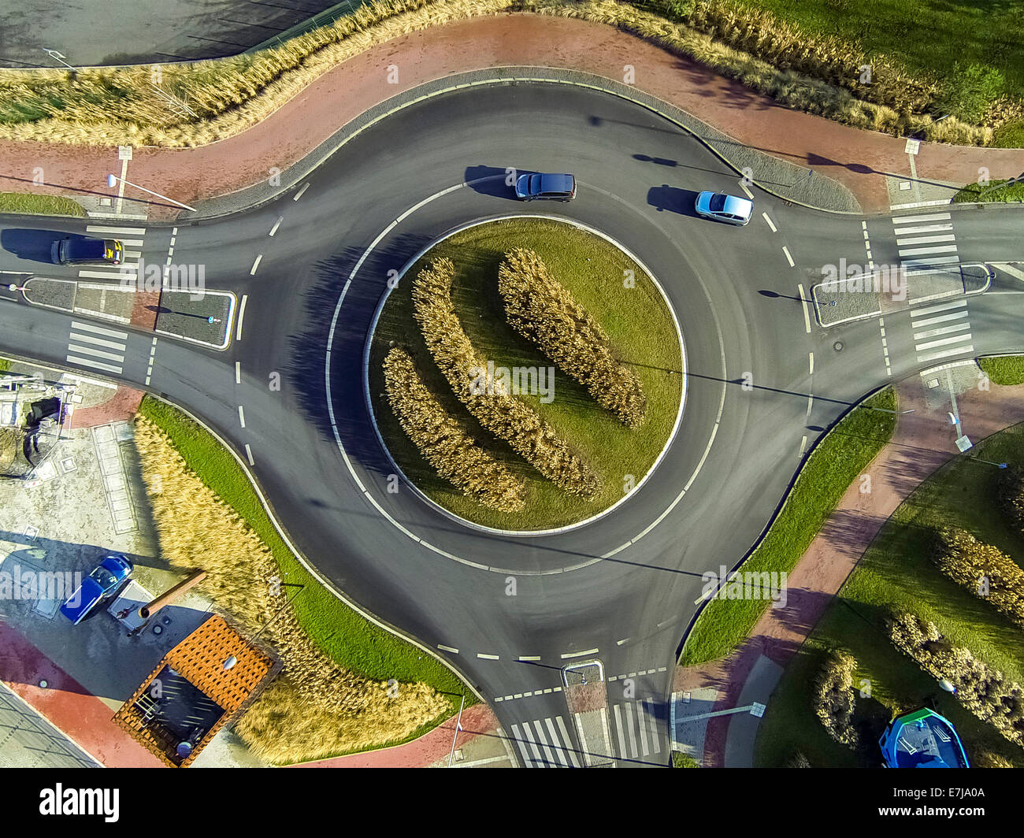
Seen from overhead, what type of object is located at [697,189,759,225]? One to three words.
car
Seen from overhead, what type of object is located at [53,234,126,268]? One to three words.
van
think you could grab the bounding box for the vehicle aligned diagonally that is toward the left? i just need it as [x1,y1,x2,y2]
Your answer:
[63,553,137,621]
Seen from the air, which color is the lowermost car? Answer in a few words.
blue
